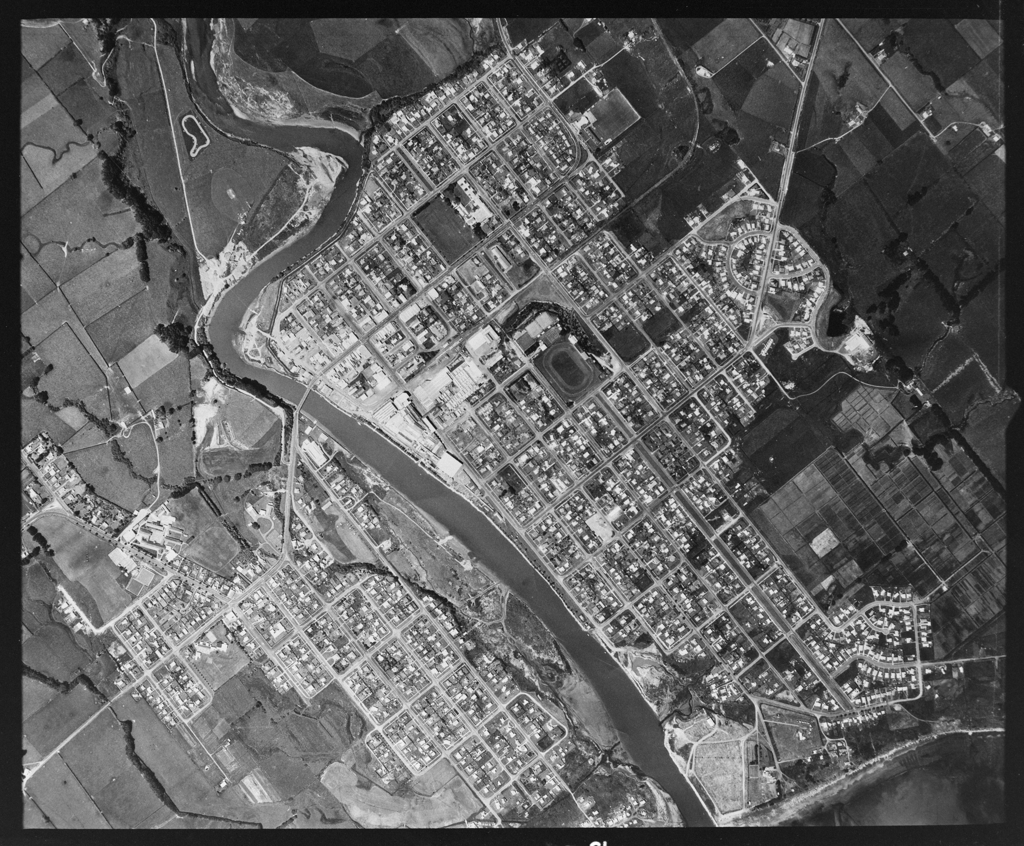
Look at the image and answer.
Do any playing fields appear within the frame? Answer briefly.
Yes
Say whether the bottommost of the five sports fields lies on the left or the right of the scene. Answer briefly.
left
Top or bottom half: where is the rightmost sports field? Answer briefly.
top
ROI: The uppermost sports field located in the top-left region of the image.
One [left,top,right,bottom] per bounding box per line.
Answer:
[210,168,254,221]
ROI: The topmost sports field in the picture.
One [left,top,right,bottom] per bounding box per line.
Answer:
[590,88,641,141]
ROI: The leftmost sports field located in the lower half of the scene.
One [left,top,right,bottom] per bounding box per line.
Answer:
[191,524,239,574]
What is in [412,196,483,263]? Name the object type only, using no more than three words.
sports field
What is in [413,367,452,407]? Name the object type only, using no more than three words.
building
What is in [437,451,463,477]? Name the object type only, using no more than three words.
building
